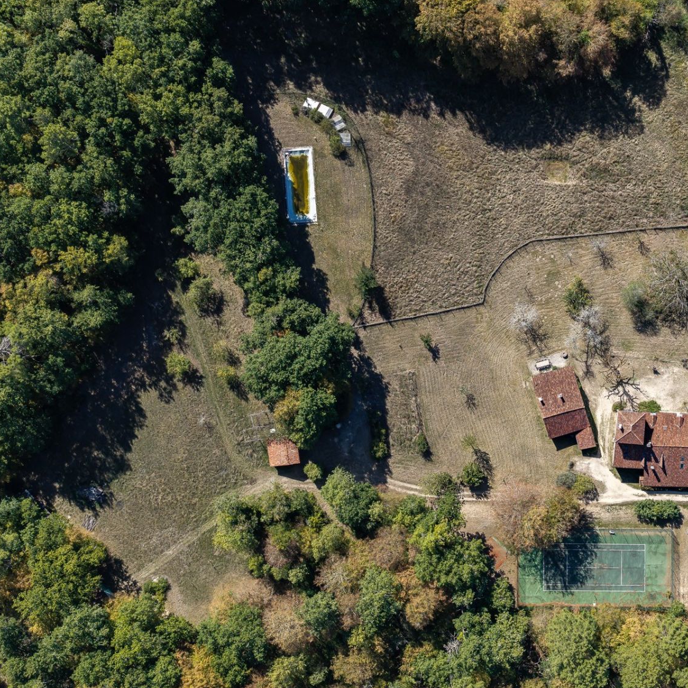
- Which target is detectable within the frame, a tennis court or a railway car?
tennis court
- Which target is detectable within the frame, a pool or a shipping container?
pool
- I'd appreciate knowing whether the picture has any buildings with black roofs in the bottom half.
No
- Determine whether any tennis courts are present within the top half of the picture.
No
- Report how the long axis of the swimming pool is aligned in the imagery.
up and down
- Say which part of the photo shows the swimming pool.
top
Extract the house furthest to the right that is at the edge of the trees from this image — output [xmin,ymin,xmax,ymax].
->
[613,411,688,487]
